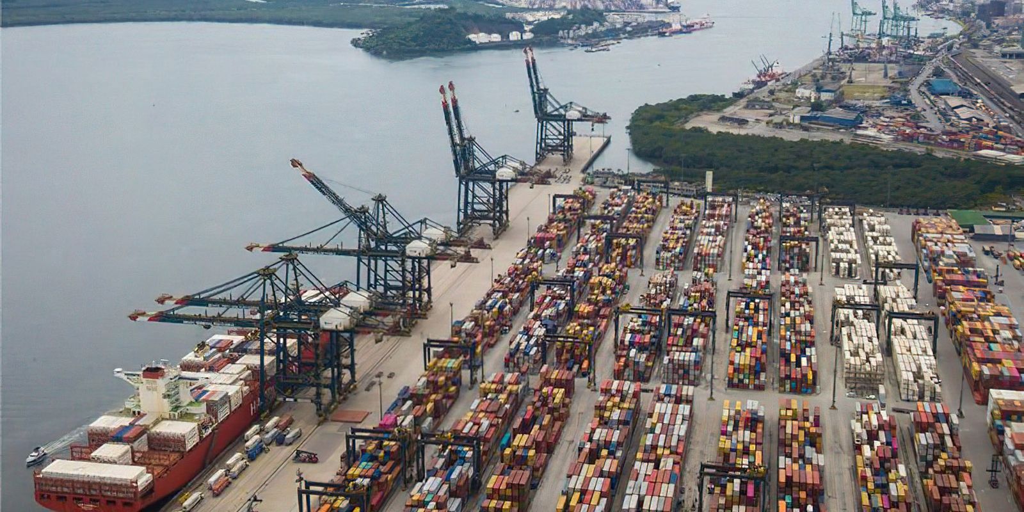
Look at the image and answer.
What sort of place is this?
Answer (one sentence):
This looks like a port.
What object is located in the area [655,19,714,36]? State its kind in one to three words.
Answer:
ship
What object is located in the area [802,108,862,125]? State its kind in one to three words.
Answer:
building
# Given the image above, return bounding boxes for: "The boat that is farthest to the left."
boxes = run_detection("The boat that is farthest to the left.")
[26,443,50,462]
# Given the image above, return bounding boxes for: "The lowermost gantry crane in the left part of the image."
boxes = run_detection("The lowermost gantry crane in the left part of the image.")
[298,476,372,512]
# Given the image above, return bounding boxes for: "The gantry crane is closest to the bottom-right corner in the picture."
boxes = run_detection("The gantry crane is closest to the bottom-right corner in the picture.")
[883,309,939,351]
